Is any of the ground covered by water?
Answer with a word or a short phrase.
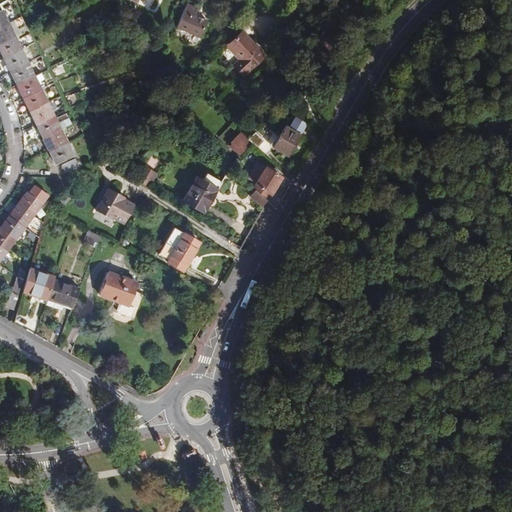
No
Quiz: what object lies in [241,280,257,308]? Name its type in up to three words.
vehicle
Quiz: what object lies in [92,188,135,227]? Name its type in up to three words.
house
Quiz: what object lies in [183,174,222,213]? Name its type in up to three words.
house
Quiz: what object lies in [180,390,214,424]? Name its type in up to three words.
roundabout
